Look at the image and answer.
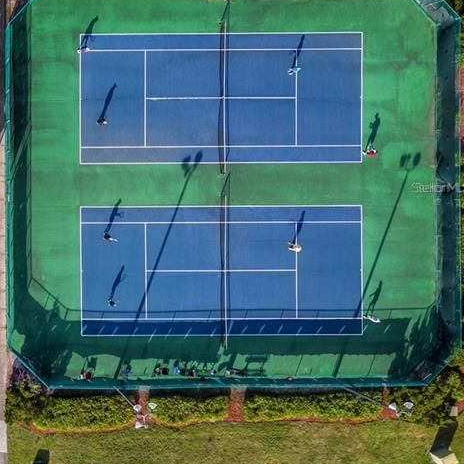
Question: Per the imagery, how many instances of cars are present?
0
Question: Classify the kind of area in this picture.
sports ground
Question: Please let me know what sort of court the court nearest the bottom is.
tennis court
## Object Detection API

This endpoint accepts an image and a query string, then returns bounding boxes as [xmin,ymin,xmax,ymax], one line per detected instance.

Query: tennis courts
[80,32,363,164]
[80,205,363,336]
